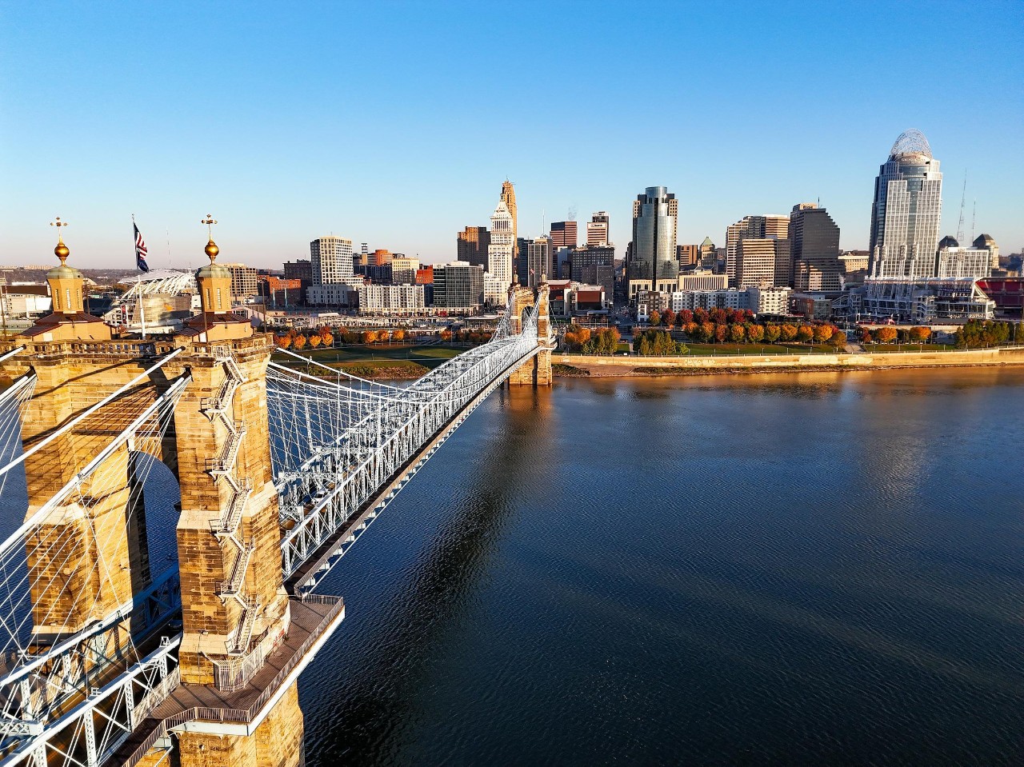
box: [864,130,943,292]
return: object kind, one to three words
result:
building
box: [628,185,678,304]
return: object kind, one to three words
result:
building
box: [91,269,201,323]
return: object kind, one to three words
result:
stadium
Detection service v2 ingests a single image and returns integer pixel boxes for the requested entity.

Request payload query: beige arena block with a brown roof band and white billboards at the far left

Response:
[0,281,53,319]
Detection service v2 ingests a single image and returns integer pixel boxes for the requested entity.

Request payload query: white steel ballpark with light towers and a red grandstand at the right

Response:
[856,248,1024,330]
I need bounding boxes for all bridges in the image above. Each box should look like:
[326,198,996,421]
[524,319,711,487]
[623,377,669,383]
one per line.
[0,213,556,767]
